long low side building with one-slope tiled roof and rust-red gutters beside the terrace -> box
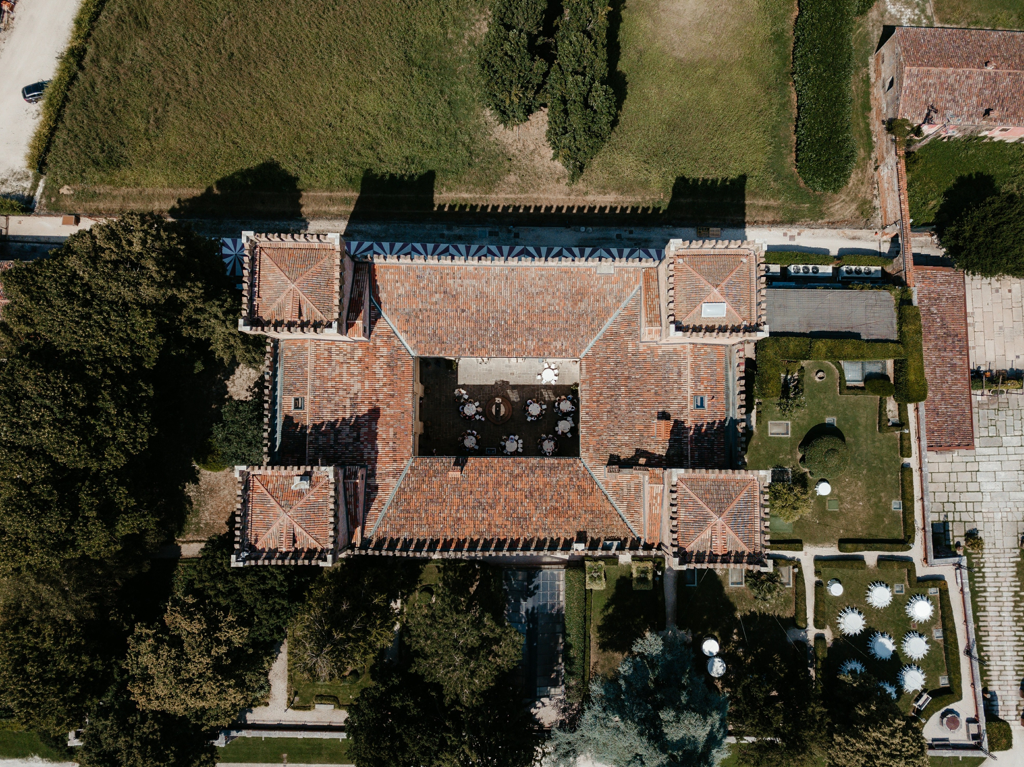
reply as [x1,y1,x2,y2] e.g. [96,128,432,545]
[915,267,976,450]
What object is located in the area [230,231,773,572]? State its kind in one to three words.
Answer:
building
